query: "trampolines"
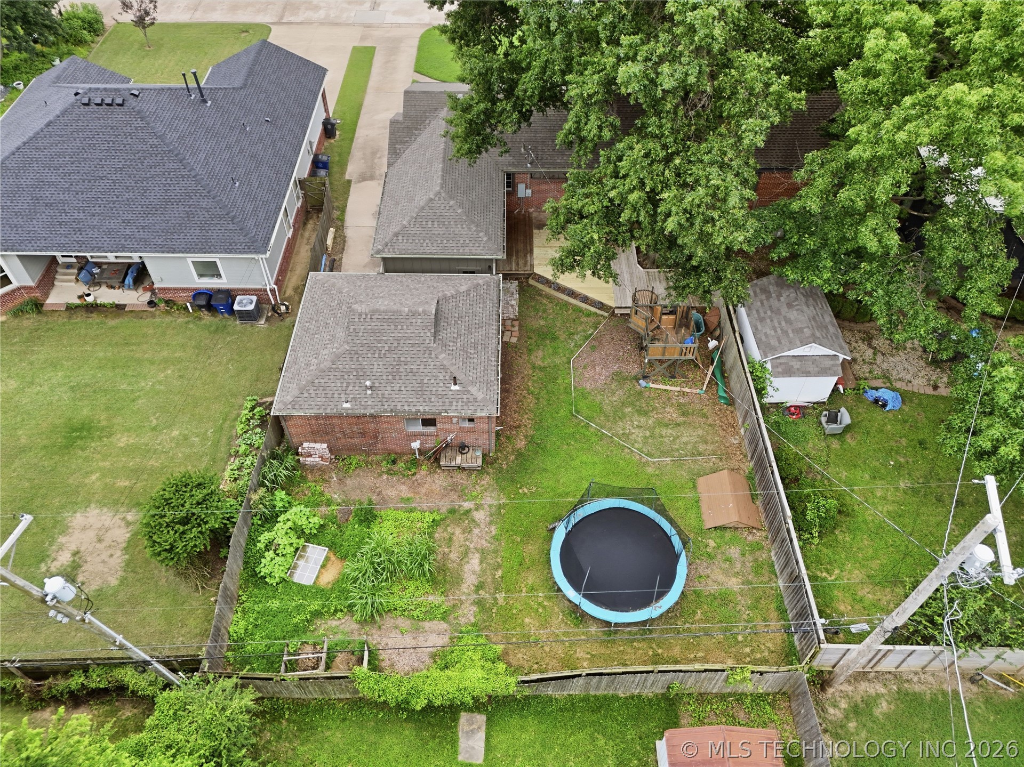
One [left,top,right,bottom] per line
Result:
[547,484,691,644]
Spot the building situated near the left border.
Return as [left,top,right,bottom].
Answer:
[0,38,329,314]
